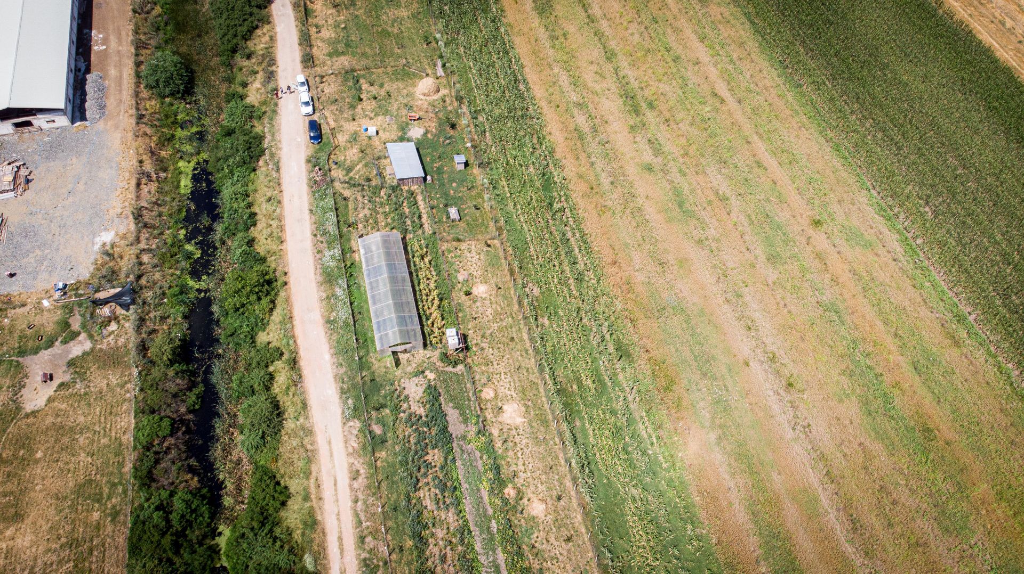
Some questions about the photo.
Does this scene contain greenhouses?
Yes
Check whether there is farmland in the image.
Yes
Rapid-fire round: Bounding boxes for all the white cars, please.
[291,71,309,92]
[299,91,312,112]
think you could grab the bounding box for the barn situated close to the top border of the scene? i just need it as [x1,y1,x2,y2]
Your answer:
[0,0,78,137]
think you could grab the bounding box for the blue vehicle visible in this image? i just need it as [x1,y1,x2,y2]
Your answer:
[307,118,321,140]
